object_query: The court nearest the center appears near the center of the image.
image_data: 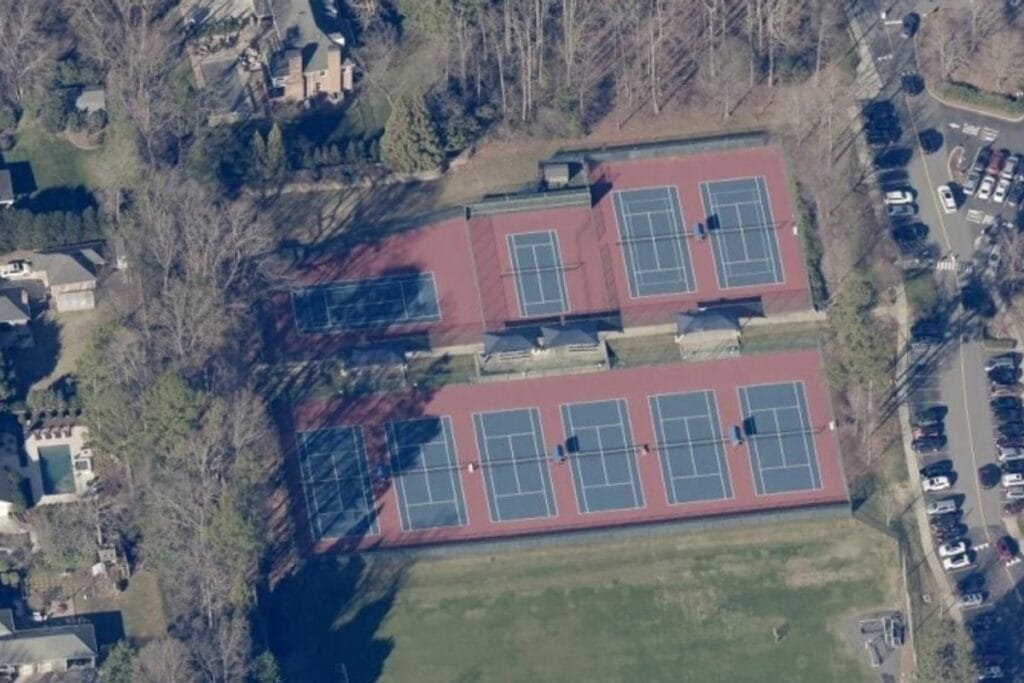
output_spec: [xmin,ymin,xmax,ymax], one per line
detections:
[506,230,570,317]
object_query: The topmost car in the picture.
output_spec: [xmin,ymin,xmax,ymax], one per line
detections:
[904,15,918,39]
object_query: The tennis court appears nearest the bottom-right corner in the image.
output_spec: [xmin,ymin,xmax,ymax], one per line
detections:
[736,380,823,496]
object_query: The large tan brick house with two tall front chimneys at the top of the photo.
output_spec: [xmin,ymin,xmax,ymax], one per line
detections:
[247,0,356,104]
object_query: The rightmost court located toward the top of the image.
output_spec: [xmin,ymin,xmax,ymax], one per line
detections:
[700,176,785,289]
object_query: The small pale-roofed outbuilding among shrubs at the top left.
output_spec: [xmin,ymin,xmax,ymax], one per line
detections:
[75,92,105,121]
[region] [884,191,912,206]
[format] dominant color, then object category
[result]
white car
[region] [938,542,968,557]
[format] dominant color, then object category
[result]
white car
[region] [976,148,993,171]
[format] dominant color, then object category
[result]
blue car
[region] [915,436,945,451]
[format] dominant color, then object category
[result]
blue car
